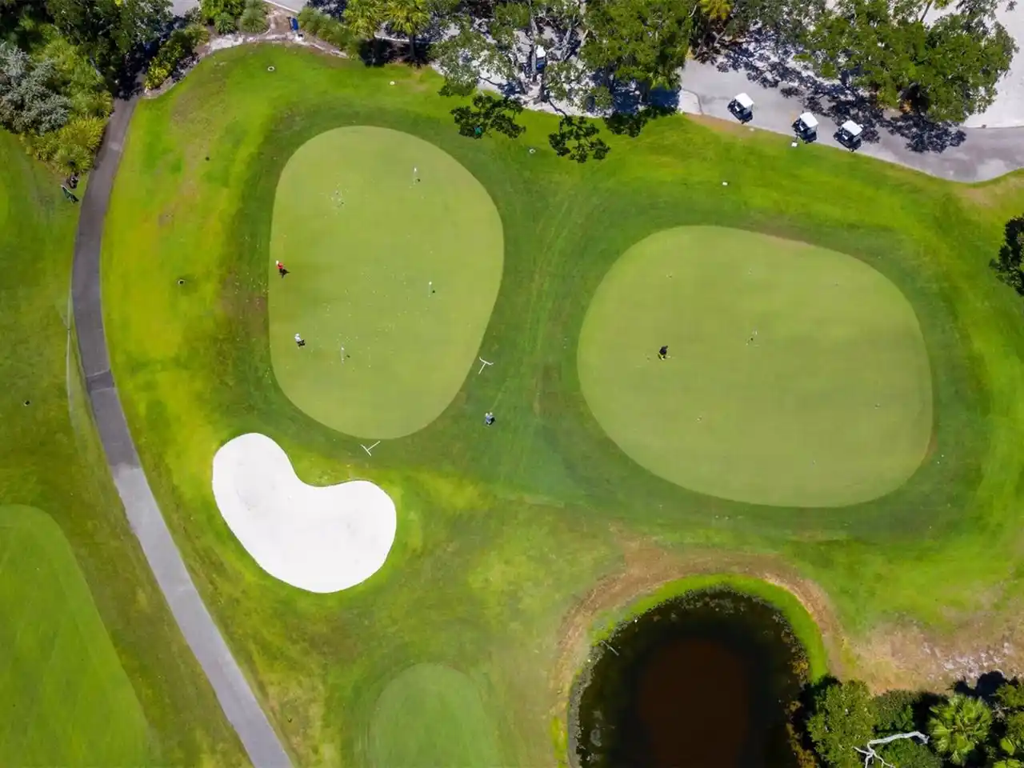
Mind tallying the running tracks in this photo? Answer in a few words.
none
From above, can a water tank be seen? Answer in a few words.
No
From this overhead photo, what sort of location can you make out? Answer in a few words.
golf course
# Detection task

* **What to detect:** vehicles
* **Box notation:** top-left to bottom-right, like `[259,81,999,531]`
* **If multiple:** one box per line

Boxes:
[791,113,818,142]
[532,45,546,72]
[729,94,754,123]
[833,121,863,150]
